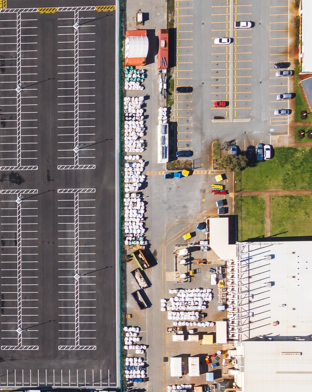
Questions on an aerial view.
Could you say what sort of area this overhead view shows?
parking lot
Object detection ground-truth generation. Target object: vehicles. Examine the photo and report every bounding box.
[276,69,291,77]
[233,21,251,28]
[246,146,254,161]
[215,37,230,44]
[177,86,192,93]
[255,144,262,160]
[277,94,292,100]
[263,145,271,160]
[177,150,192,157]
[274,110,289,116]
[214,101,227,108]
[274,62,289,69]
